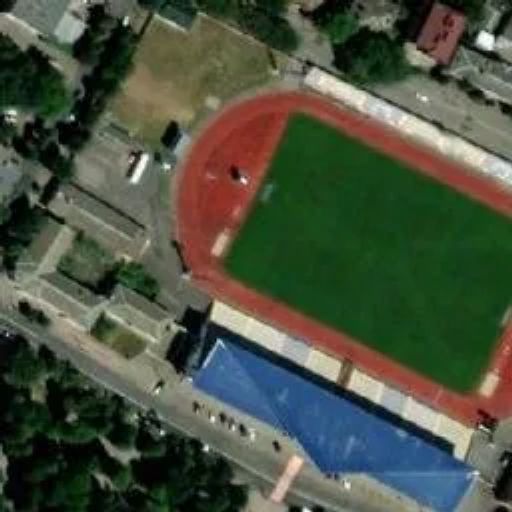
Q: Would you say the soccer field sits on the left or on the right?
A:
right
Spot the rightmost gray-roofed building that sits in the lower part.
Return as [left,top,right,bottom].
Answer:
[102,283,170,341]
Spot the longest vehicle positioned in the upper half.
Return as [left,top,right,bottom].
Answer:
[130,153,150,184]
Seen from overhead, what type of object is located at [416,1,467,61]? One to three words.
house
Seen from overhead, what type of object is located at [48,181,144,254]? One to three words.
house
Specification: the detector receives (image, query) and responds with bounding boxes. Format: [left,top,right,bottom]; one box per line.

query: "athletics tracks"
[172,91,512,428]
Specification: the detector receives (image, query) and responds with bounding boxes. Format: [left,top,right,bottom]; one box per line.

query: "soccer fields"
[222,110,512,400]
